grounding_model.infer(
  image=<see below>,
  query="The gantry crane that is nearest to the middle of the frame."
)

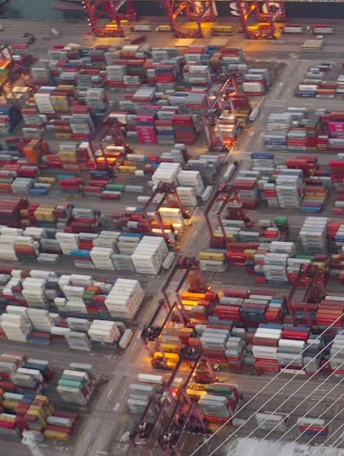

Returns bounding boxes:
[156,191,203,250]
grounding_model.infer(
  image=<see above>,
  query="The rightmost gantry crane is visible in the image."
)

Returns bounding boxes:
[283,262,327,308]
